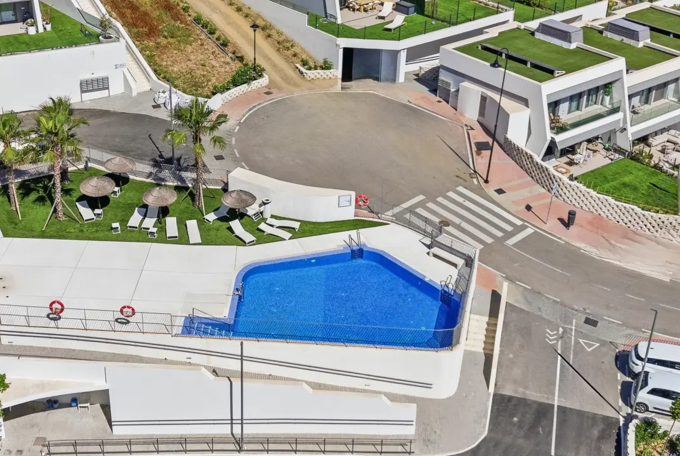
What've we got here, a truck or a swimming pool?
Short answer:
swimming pool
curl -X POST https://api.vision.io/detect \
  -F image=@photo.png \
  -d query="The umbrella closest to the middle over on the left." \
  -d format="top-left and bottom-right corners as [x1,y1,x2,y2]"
[221,184,261,219]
